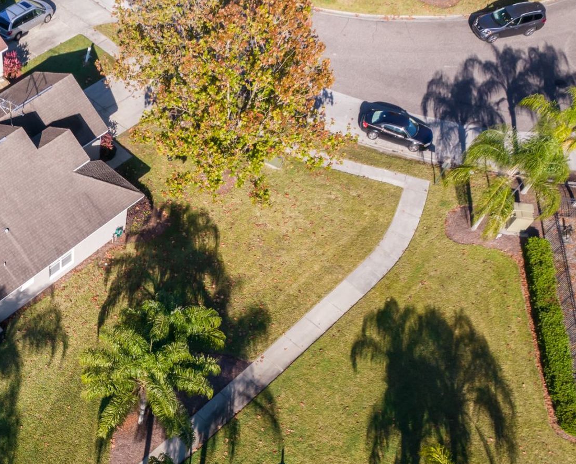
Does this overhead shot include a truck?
No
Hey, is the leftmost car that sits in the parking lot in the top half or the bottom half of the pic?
top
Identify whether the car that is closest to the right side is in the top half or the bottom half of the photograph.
top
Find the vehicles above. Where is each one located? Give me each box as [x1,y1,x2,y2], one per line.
[474,2,546,43]
[0,0,53,41]
[361,110,432,153]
